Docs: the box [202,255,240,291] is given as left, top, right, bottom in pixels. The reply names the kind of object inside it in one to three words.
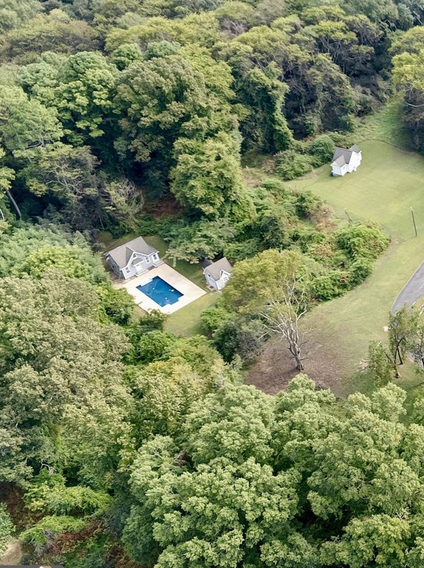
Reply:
shed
